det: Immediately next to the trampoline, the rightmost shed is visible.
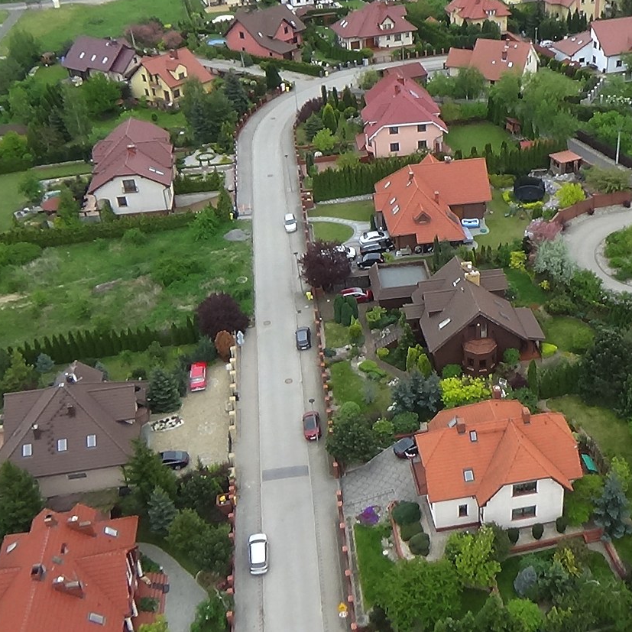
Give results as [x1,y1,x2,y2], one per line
[552,154,581,177]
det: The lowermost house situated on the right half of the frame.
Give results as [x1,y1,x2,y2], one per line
[413,385,583,528]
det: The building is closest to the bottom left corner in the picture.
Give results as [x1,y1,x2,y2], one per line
[0,489,148,632]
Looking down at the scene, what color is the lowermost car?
white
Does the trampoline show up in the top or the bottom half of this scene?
top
